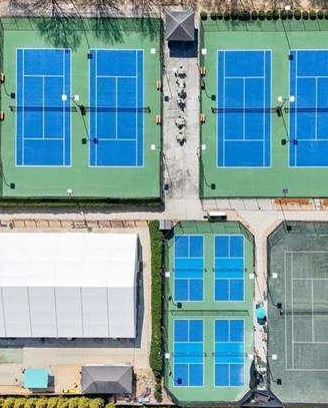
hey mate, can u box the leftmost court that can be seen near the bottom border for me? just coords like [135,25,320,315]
[166,311,209,403]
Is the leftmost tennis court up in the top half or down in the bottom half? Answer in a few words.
top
